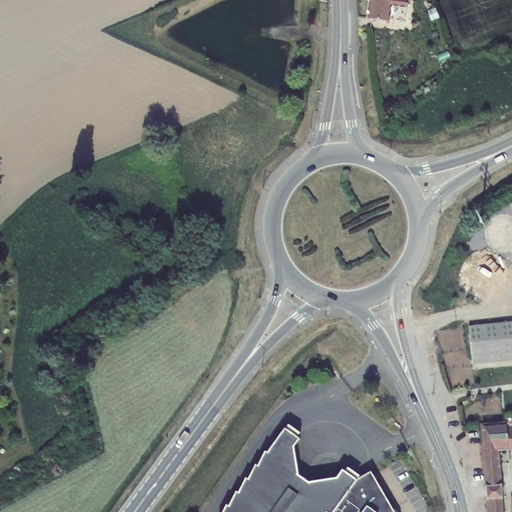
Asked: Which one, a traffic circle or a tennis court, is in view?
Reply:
traffic circle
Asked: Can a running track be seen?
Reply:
No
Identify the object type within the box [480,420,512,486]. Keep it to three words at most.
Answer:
house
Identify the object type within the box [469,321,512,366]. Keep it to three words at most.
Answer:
hangar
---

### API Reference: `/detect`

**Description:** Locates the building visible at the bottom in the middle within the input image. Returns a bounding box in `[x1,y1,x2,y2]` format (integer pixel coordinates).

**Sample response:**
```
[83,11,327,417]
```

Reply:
[224,424,394,512]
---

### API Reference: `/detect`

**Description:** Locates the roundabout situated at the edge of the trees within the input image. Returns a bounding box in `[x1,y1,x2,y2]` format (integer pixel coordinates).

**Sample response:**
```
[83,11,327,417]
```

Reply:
[256,146,436,316]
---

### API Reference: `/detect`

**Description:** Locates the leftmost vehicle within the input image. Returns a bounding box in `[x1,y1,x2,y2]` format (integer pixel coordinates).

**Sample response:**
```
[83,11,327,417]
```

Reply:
[176,428,190,445]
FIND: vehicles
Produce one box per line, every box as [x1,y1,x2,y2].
[273,284,280,296]
[398,472,408,480]
[306,164,316,173]
[473,474,484,480]
[446,406,457,412]
[364,154,376,162]
[448,421,459,426]
[398,320,404,330]
[494,154,507,163]
[176,428,190,445]
[452,492,458,502]
[403,483,414,492]
[468,432,478,437]
[470,438,480,443]
[326,292,338,300]
[456,432,466,440]
[478,266,492,276]
[472,468,484,474]
[410,392,418,404]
